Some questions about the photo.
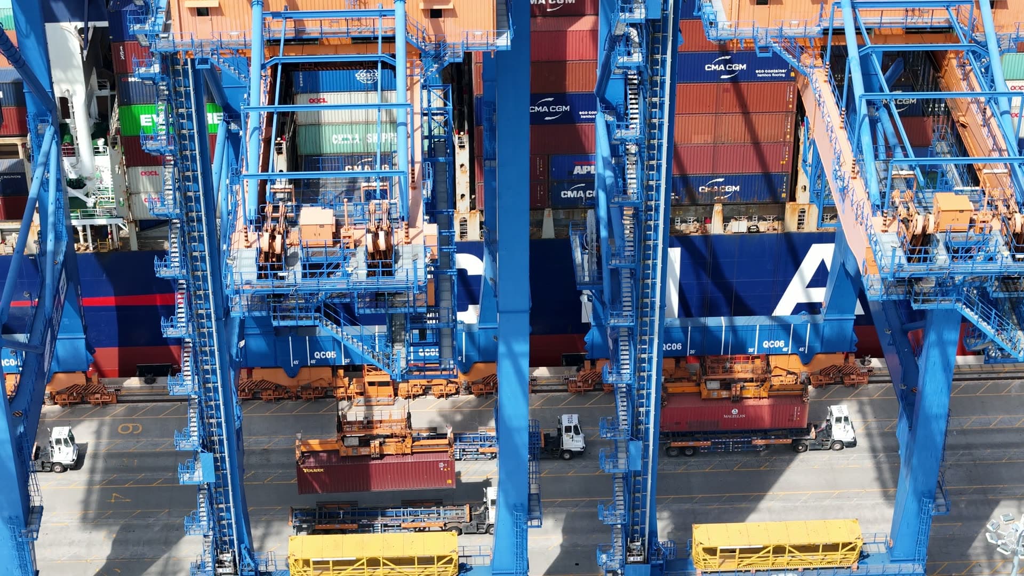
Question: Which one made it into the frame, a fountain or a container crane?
container crane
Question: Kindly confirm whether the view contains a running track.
No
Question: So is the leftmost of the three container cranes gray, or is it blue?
blue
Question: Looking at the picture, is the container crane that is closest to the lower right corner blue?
Yes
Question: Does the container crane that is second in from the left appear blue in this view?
Yes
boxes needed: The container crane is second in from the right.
[124,0,546,576]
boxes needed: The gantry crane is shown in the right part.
[567,0,1024,576]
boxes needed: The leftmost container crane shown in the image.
[0,0,120,576]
